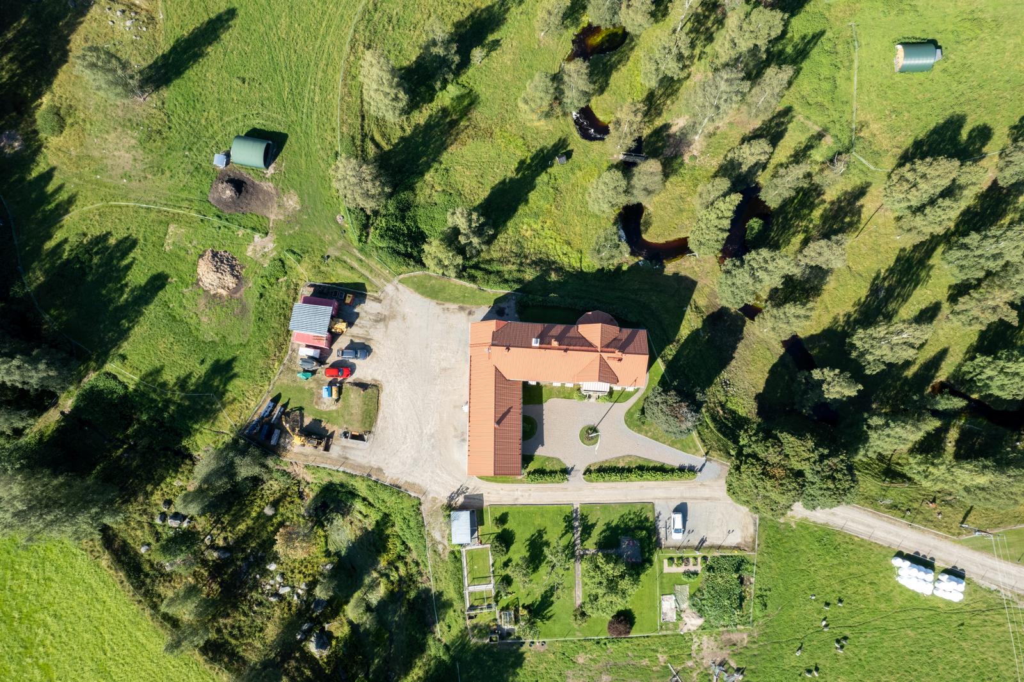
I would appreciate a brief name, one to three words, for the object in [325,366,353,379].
vehicle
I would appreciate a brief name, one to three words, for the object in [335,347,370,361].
car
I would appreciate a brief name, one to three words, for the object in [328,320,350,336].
work vehicle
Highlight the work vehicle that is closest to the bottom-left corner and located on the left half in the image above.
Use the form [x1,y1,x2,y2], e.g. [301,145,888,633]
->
[287,415,337,453]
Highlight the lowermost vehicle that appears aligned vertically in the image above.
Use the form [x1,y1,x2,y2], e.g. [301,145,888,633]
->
[670,510,685,541]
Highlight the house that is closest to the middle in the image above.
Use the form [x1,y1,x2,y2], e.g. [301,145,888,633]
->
[462,308,649,477]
